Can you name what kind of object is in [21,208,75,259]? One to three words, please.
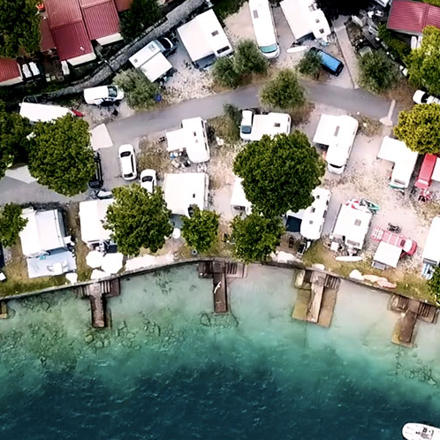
camper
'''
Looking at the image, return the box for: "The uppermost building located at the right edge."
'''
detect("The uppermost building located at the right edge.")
[387,0,440,38]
